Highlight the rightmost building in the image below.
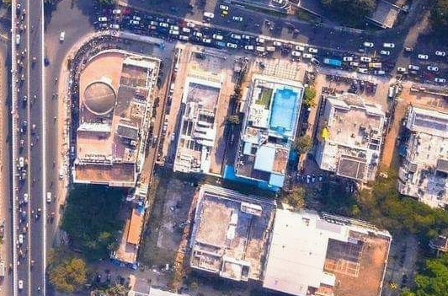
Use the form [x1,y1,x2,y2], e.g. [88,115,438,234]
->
[390,101,448,208]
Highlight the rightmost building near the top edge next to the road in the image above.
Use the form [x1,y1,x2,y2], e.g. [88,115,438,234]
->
[378,3,401,30]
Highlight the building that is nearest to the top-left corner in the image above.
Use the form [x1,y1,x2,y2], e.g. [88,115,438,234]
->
[72,48,159,184]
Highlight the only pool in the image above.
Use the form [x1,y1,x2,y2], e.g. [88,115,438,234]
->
[269,85,299,132]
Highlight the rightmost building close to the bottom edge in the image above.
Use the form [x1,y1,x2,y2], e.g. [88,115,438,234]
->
[260,206,392,296]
